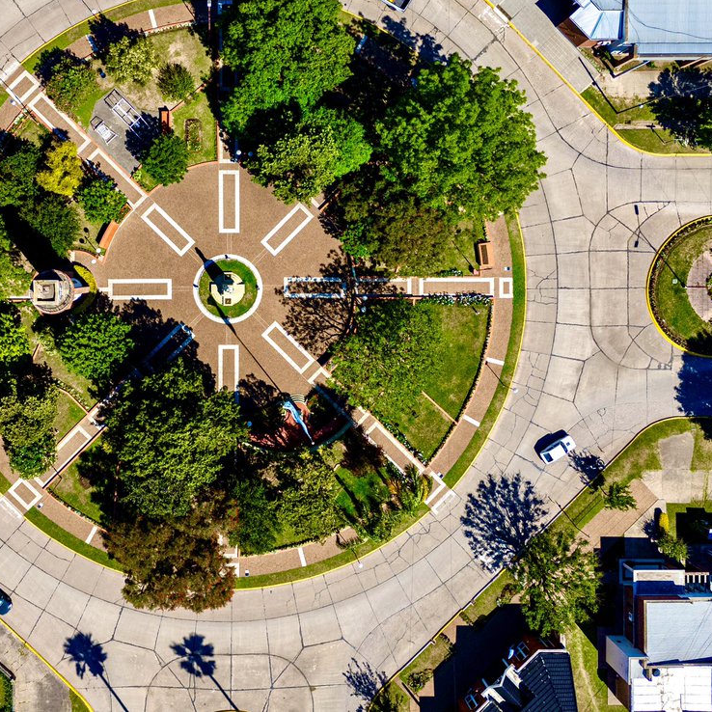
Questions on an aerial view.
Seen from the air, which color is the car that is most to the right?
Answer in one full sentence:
The car that is most to the right looks white in the image.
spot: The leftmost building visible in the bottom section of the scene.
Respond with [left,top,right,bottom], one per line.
[449,635,576,712]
